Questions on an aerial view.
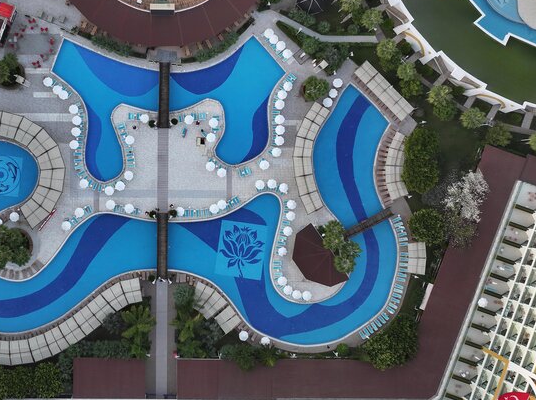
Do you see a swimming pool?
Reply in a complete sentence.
Yes, there's a swimming pool down there.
